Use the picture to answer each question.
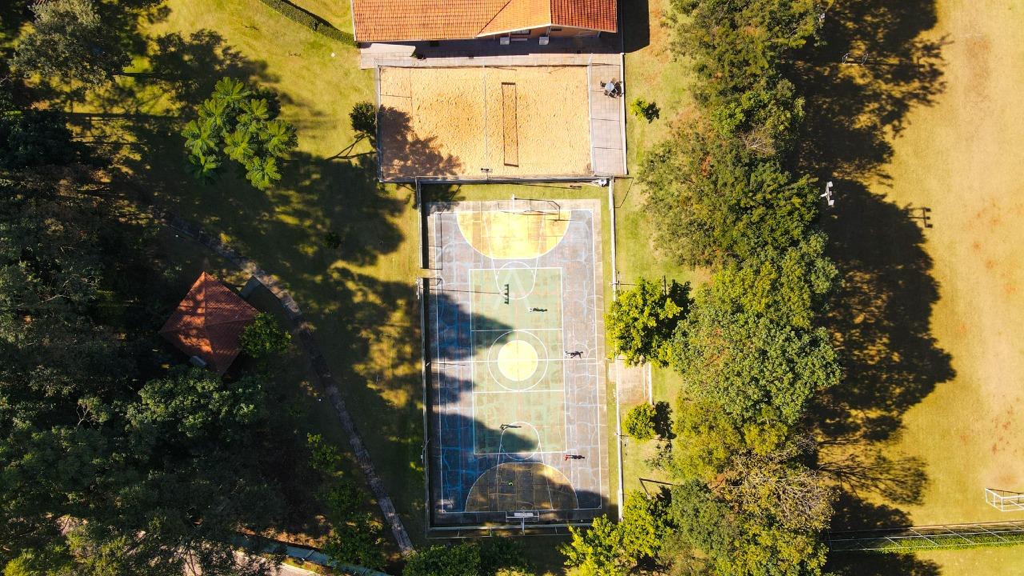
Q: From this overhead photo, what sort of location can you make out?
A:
sports ground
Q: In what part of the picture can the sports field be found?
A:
right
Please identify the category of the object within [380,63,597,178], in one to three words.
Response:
sports court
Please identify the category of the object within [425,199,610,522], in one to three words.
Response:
sports court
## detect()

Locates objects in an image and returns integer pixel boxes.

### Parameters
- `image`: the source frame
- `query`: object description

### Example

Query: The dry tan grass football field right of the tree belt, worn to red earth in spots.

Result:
[872,34,1024,488]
